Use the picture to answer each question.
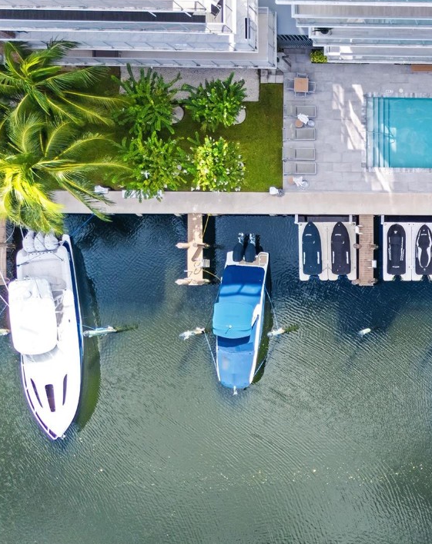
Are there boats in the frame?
Yes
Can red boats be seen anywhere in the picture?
No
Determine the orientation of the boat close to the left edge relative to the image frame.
from top to bottom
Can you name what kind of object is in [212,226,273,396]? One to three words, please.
boat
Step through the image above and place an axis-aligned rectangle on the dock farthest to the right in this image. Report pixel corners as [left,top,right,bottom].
[380,217,432,281]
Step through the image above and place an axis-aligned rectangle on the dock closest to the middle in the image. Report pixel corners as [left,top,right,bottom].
[173,217,215,284]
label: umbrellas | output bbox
[291,176,312,191]
[298,113,318,127]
